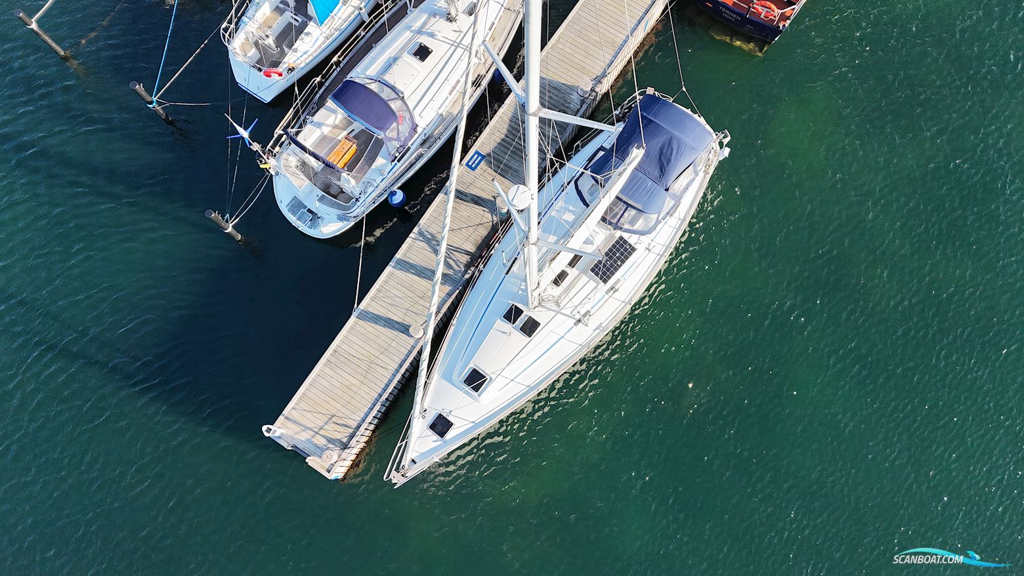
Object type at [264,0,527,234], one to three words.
boat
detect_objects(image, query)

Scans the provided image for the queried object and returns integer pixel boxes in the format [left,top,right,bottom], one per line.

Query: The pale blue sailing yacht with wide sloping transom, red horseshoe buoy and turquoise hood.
[219,0,386,110]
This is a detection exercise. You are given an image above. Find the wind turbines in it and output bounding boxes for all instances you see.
[219,119,278,184]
